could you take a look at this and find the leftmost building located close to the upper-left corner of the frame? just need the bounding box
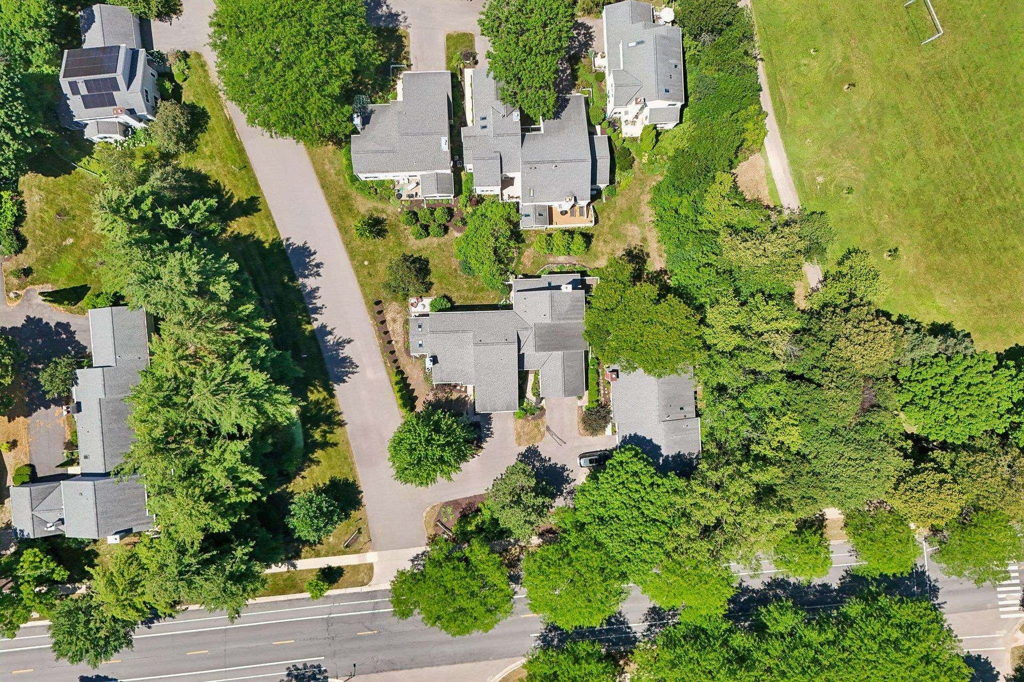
[59,3,168,140]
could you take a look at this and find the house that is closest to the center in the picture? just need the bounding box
[409,273,586,414]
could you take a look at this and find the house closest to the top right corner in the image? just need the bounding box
[602,0,684,127]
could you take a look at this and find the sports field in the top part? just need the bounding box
[751,0,1024,345]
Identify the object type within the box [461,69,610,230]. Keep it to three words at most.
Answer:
house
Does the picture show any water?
No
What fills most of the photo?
trees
